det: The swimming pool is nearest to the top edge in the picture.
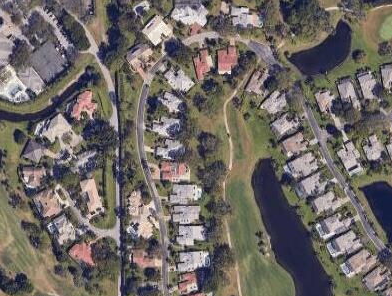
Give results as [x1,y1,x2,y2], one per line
[134,1,151,17]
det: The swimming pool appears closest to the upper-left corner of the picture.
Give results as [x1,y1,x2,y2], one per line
[0,67,31,103]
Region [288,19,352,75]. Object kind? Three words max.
pond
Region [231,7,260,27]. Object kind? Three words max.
house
